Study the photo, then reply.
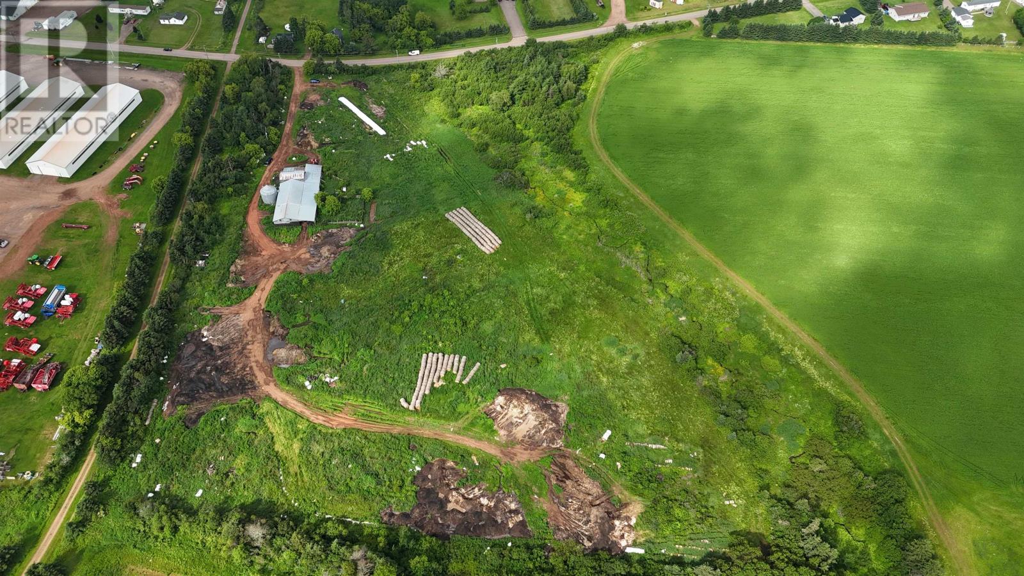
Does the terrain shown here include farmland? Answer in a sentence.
Yes, the picture does contain farmland.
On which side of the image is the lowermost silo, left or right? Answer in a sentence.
It is on the left.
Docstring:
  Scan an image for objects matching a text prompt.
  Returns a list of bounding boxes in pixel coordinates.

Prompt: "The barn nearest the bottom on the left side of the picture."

[273,164,322,230]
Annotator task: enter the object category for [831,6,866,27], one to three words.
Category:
house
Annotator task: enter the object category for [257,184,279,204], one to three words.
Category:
silo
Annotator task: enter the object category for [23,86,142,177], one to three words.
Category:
shed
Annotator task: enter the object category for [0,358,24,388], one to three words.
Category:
work vehicle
